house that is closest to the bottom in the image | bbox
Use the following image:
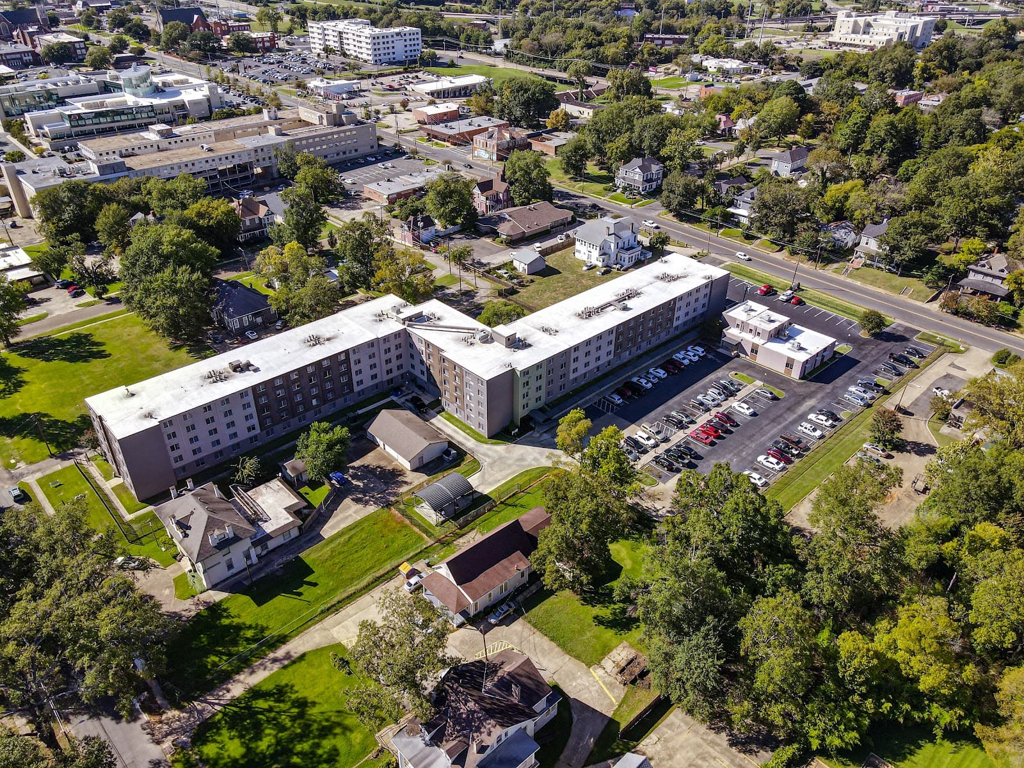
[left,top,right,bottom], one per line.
[401,652,571,768]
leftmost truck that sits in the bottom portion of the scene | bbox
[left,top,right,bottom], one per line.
[6,482,28,505]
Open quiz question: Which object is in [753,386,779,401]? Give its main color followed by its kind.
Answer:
gray car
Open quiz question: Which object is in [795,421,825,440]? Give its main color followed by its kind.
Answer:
white vehicle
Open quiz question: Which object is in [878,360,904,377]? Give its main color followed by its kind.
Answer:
gray car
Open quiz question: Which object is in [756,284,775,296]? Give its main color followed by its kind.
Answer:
red vehicle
